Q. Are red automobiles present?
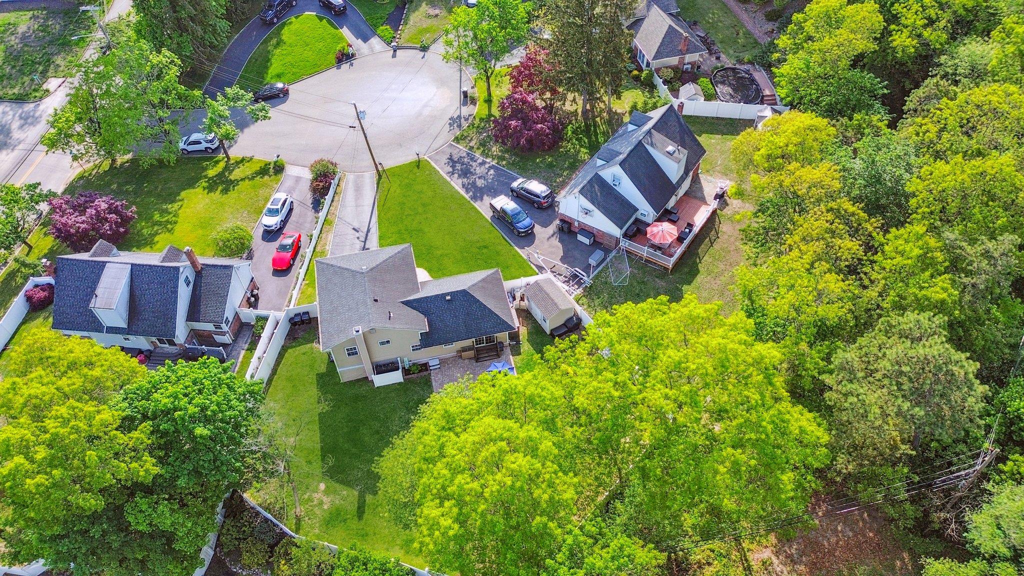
Yes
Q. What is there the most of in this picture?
trees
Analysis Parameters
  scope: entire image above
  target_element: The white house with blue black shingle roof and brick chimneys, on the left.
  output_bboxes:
[51,236,260,372]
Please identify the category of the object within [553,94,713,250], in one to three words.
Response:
house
